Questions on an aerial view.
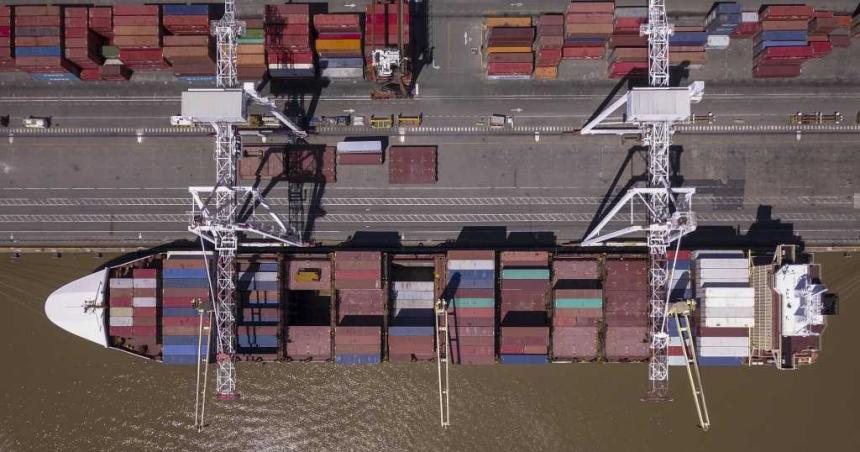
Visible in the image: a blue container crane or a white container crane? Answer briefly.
white container crane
